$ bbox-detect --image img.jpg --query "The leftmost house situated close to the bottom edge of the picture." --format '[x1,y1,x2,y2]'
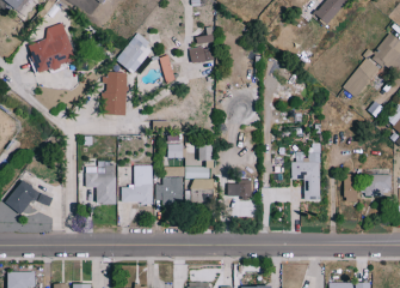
[7,271,36,288]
